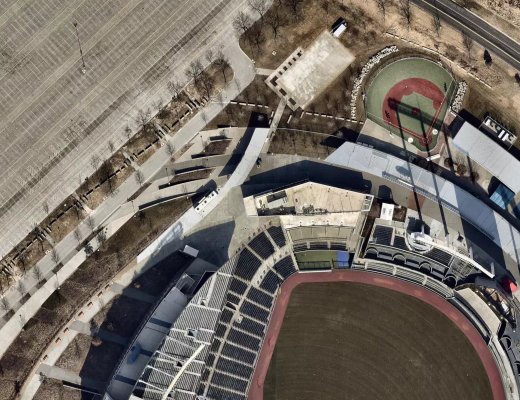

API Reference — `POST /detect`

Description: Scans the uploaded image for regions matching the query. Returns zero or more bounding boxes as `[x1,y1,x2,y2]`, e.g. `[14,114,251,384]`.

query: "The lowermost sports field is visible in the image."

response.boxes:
[262,281,493,400]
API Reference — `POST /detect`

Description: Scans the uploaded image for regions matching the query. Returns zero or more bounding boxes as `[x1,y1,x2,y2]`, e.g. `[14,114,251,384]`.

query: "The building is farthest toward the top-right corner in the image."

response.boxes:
[452,120,520,198]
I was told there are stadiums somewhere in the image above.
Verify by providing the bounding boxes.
[101,206,515,400]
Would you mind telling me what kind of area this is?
sports ground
